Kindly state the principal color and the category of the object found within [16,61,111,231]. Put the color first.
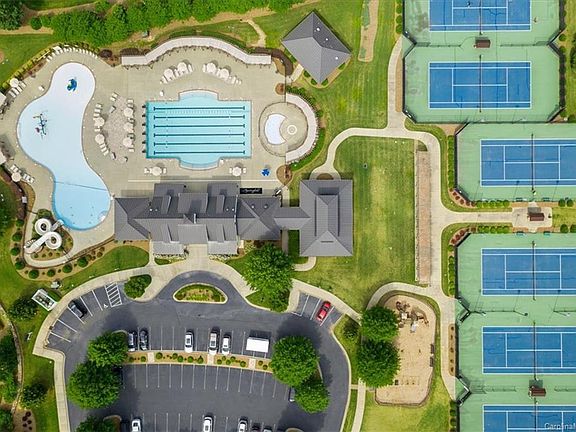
white swimming pool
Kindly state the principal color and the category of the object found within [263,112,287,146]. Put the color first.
white swimming pool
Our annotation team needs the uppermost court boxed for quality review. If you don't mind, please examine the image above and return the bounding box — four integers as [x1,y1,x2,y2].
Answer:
[403,0,560,45]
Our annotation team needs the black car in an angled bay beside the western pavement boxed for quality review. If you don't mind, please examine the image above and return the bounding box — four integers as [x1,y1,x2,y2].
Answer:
[68,299,87,320]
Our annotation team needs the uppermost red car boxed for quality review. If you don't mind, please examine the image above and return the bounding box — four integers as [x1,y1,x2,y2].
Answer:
[317,302,330,323]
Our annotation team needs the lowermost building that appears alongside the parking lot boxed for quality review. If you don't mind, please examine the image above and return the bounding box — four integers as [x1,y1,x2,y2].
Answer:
[113,180,353,256]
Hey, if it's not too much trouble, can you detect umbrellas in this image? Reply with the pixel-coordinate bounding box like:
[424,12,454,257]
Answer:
[232,166,242,177]
[152,166,163,177]
[219,69,230,80]
[95,117,105,127]
[11,172,22,182]
[123,137,134,147]
[10,78,20,88]
[123,123,134,133]
[123,107,134,118]
[177,62,188,73]
[164,69,174,79]
[206,63,217,74]
[94,134,106,145]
